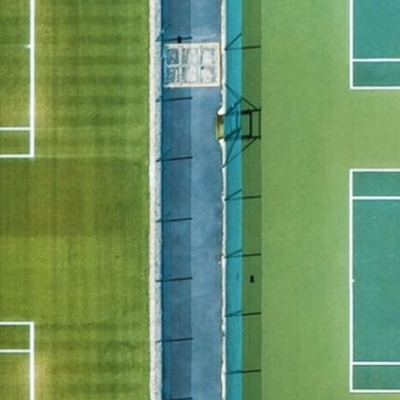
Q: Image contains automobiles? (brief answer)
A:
No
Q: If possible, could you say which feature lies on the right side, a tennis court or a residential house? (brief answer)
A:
tennis court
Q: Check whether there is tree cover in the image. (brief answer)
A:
No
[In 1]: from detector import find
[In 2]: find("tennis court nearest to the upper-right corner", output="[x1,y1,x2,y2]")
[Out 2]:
[349,0,400,89]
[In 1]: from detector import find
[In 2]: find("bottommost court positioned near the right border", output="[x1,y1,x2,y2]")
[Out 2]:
[349,168,400,393]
